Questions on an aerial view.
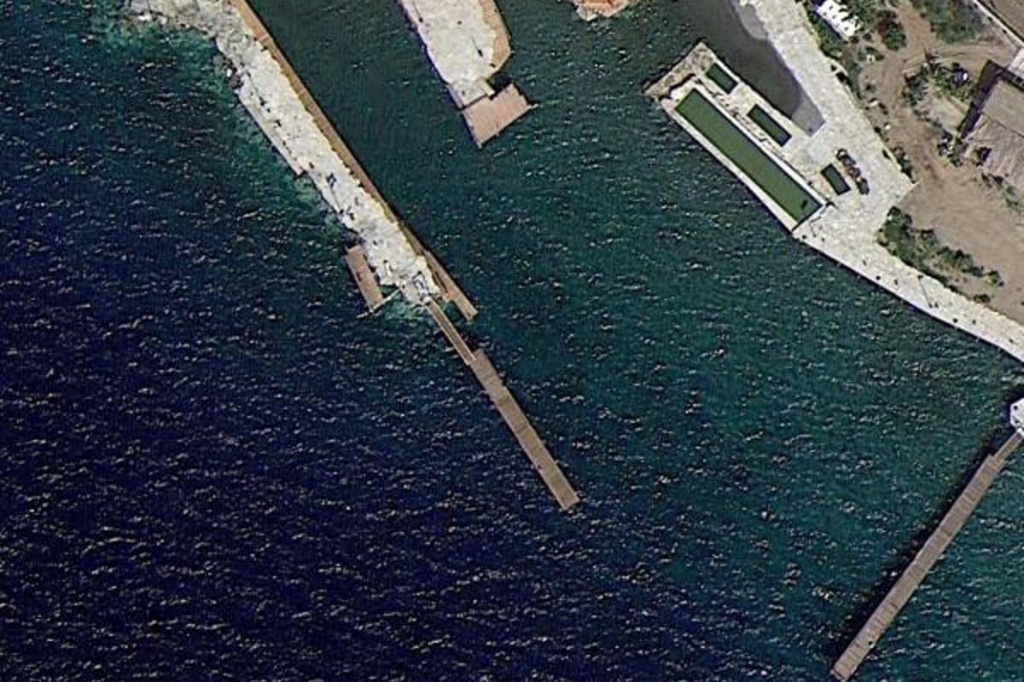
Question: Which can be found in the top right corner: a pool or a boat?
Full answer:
Looking in the top right corner, you will find a pool.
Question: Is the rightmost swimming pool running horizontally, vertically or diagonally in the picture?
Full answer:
I'd say the rightmost swimming pool is aligned diagonally in the picture.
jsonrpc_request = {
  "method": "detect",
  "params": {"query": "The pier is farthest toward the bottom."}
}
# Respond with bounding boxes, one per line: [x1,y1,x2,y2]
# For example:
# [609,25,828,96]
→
[831,456,1004,682]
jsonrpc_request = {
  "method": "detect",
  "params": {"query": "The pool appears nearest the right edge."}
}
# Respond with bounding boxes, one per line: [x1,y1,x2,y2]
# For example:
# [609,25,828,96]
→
[822,164,850,195]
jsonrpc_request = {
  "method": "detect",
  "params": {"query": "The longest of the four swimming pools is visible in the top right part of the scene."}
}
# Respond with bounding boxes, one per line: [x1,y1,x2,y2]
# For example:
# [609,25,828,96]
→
[669,80,828,228]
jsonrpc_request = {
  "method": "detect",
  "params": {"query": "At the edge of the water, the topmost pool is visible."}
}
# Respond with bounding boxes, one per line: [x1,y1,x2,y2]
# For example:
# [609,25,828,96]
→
[708,64,738,92]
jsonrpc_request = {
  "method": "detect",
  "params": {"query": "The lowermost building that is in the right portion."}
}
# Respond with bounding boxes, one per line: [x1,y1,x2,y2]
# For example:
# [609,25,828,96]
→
[966,79,1024,183]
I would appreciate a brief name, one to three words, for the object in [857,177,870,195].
vehicle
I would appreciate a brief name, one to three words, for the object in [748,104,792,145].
swimming pool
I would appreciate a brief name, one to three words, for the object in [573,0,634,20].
pier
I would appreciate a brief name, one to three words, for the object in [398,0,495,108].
pier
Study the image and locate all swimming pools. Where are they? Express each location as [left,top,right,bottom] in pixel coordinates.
[822,164,850,195]
[748,104,792,145]
[708,64,738,92]
[669,80,828,228]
